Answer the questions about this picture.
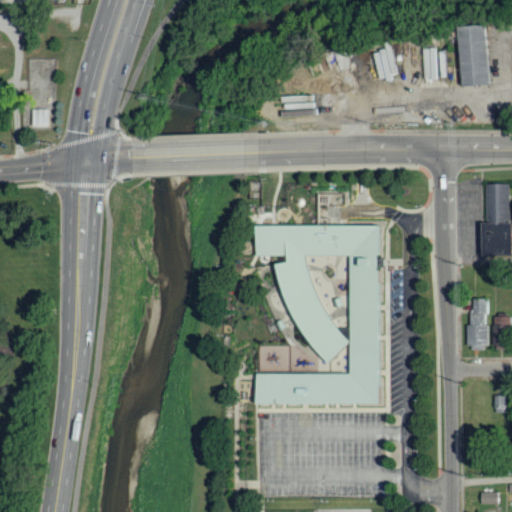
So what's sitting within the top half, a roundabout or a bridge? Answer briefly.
bridge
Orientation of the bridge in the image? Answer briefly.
from side to side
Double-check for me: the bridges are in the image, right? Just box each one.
[131,132,244,177]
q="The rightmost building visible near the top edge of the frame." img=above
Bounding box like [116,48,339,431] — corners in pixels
[458,24,492,86]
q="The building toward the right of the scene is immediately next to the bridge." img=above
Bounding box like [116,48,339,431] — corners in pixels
[256,225,381,404]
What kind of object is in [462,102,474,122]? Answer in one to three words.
vehicle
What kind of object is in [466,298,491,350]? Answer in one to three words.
house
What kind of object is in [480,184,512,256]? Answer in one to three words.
house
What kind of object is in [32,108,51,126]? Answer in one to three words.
shed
